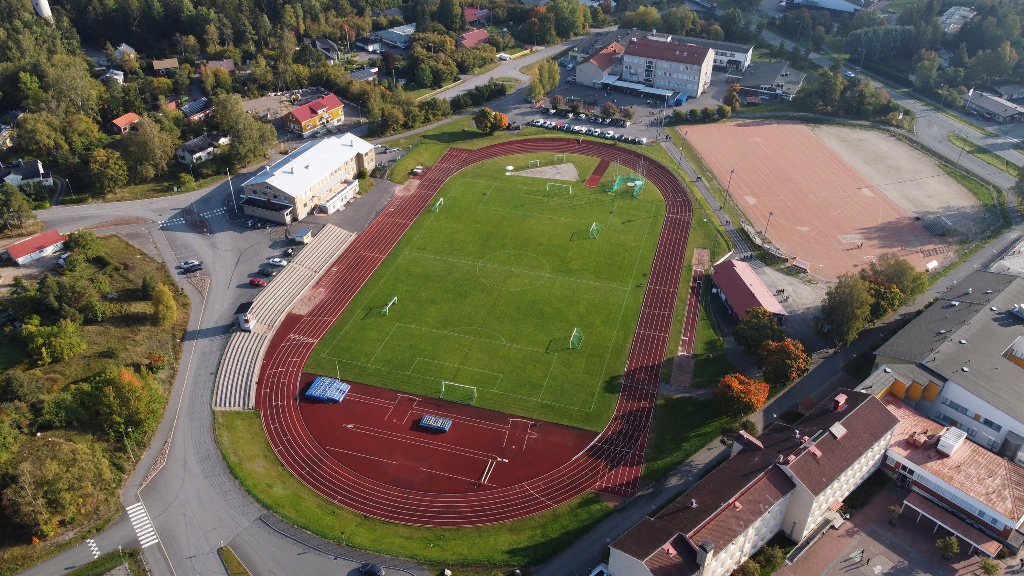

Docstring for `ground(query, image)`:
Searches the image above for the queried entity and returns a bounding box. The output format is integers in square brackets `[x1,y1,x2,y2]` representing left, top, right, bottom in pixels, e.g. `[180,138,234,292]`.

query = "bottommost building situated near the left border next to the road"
[5,231,66,266]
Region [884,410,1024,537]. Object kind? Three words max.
building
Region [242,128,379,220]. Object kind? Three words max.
building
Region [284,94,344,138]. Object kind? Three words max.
house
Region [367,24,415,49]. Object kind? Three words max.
house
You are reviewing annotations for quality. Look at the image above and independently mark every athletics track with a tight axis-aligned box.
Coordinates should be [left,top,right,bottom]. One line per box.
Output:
[261,144,693,528]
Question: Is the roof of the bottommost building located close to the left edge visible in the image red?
Yes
